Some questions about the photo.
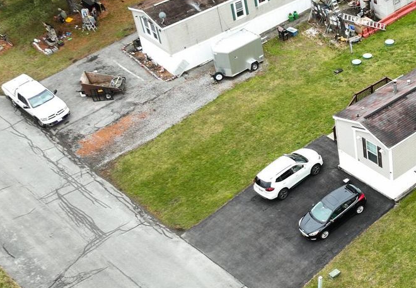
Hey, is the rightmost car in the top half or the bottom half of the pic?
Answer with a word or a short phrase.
bottom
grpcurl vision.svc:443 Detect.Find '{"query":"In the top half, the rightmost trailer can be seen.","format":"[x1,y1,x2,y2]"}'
[200,27,264,78]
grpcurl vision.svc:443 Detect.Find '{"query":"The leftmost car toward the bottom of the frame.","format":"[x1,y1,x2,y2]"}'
[254,150,323,201]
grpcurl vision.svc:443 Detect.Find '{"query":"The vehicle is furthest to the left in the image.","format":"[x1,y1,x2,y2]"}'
[0,76,67,126]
